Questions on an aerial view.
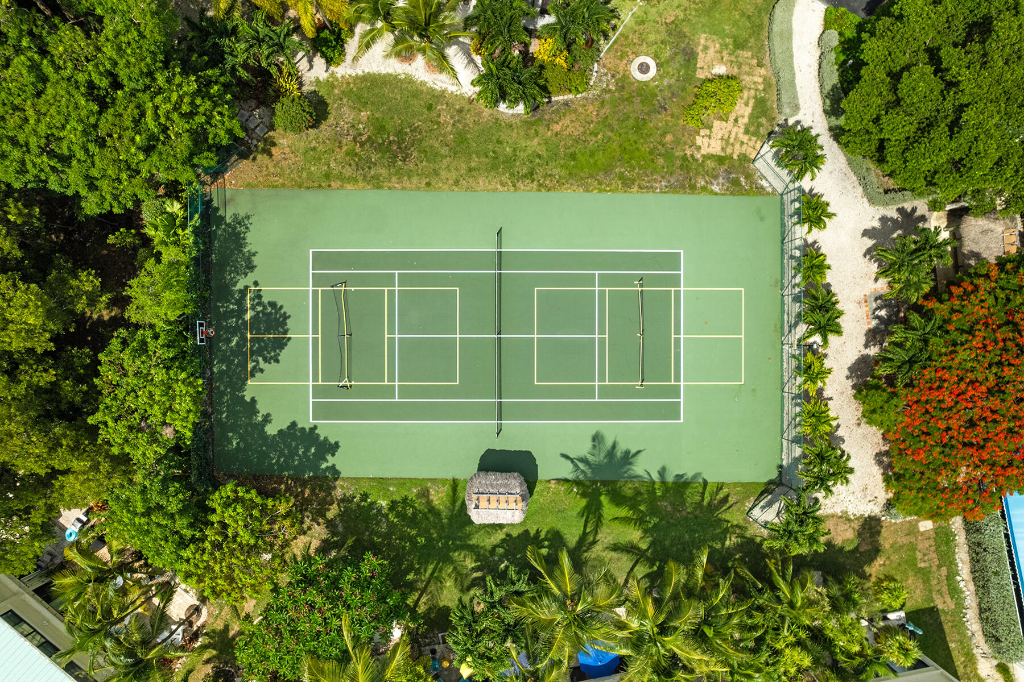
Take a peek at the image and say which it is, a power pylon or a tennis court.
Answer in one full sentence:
There is a tennis court in the scene.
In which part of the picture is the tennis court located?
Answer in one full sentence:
The tennis court appears toward the center of the photo.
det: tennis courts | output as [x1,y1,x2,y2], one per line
[211,189,785,483]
